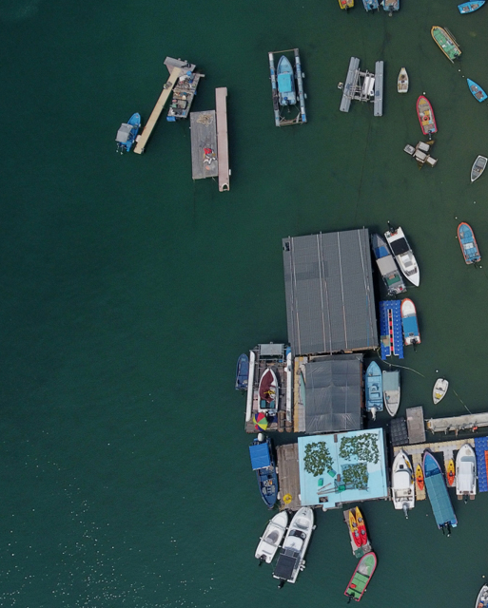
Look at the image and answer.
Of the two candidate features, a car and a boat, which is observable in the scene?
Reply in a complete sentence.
Of the two, only a boat appears.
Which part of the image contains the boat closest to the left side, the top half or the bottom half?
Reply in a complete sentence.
You can find the boat closest to the left side in the top half.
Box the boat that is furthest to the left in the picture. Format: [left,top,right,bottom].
[110,112,141,160]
